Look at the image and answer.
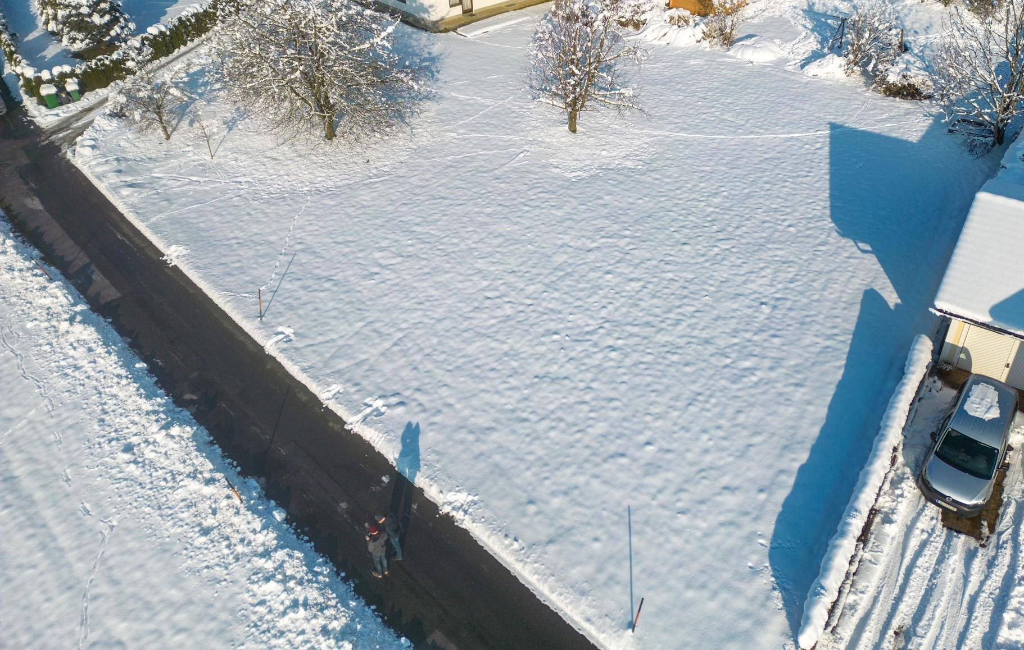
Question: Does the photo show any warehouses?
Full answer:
No, no warehouse can be seen from above.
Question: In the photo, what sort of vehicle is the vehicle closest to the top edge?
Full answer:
What you see as the vehicle closest to the top edge is an automobile.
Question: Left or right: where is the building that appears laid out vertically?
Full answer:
The building that appears laid out vertically appears in the right half of the scene.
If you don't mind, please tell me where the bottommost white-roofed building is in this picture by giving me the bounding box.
[926,181,1024,393]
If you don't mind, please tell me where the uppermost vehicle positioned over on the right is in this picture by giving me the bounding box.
[915,377,1019,519]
